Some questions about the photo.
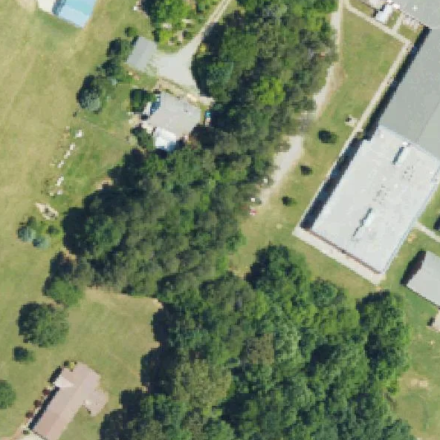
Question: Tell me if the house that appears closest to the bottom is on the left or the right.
left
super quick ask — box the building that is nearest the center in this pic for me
[146,92,201,151]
